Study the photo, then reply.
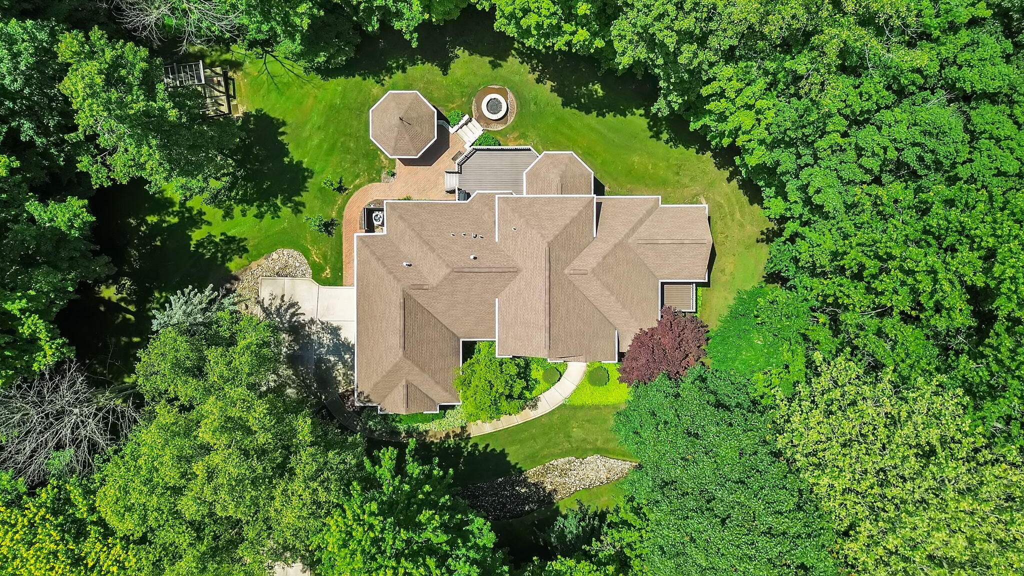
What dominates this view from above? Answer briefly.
trees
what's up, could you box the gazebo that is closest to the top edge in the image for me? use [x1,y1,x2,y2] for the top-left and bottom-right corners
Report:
[369,90,438,160]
